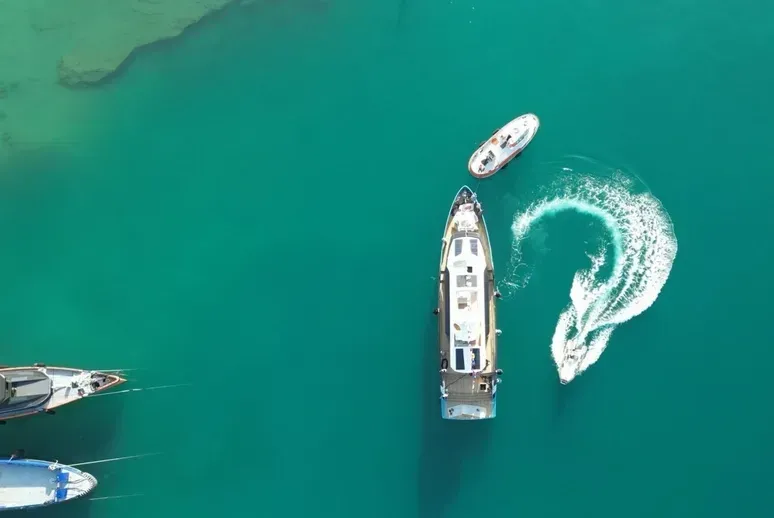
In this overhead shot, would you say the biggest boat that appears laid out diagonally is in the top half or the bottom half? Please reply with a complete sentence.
Seen from above, the biggest boat that appears laid out diagonally lies in the top half of the view.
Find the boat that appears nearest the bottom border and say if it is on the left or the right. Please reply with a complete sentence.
The boat that appears nearest the bottom border is on the left side of the image.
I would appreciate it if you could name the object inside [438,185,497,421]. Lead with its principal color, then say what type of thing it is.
white boat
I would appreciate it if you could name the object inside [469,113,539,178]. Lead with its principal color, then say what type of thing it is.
white boat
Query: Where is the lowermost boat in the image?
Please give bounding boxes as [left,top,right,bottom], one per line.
[0,460,96,510]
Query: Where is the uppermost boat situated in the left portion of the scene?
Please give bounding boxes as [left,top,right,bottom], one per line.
[0,366,128,420]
